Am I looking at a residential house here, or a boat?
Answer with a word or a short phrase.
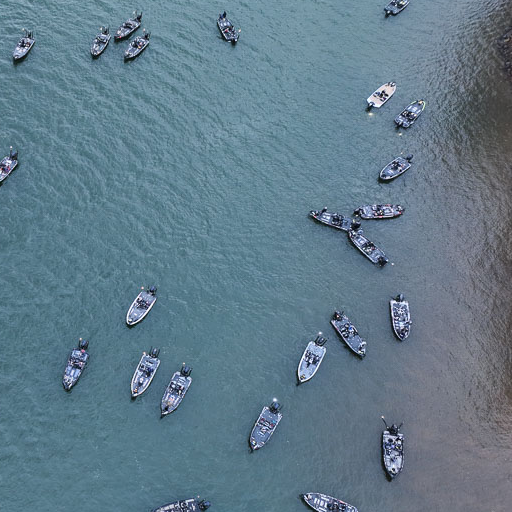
boat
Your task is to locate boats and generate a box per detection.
[384,0,410,16]
[92,26,111,56]
[64,341,89,390]
[383,418,405,479]
[332,309,366,357]
[349,229,394,267]
[131,348,160,397]
[380,152,413,181]
[154,497,208,512]
[367,80,397,109]
[114,14,141,40]
[251,399,282,451]
[125,30,149,59]
[128,285,157,326]
[219,14,240,44]
[395,99,425,128]
[160,363,192,414]
[304,492,360,512]
[12,29,35,60]
[354,204,406,219]
[0,147,18,182]
[299,333,326,383]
